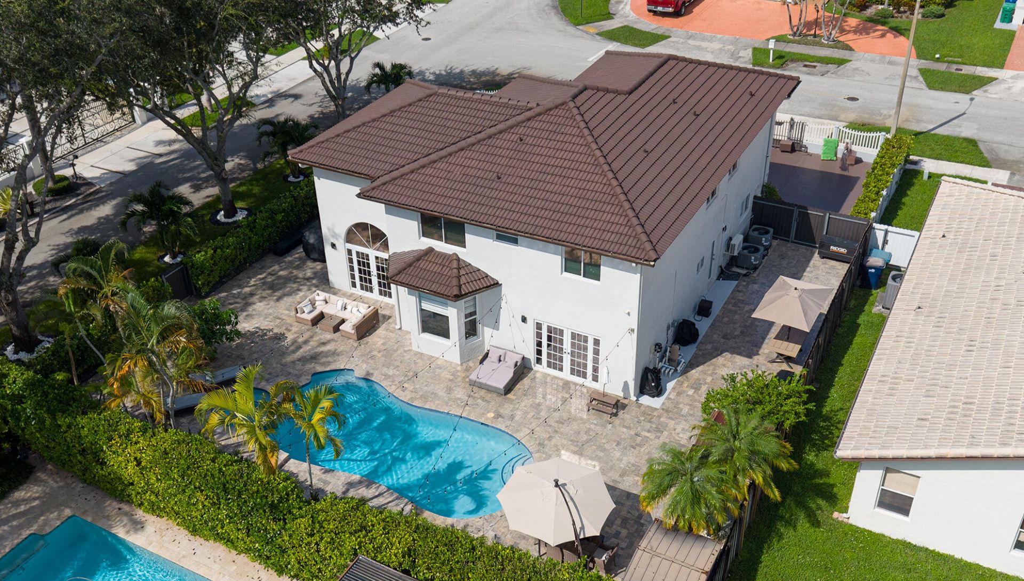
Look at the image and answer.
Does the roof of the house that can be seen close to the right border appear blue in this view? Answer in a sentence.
No, the roof of the house that can be seen close to the right border is actually white.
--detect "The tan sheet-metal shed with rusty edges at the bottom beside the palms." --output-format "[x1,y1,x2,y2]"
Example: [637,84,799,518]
[618,524,724,581]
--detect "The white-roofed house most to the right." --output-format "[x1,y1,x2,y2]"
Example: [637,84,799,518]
[833,165,1024,569]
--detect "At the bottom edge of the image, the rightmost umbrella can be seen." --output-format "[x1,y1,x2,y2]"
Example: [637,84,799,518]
[496,459,618,573]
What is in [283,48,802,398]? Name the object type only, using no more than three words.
house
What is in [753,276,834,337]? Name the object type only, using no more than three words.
umbrella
